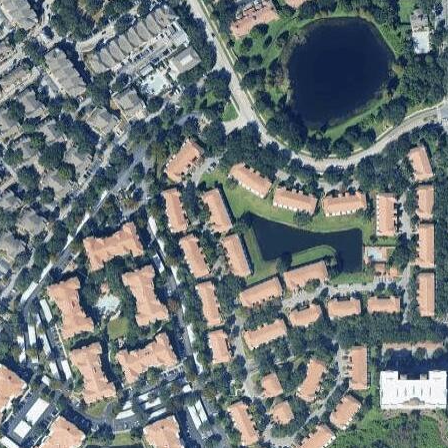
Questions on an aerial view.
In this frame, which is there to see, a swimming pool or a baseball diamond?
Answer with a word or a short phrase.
swimming pool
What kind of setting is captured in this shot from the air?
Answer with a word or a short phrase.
residential area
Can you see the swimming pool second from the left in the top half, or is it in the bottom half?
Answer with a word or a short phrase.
top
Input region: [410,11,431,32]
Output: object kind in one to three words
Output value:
building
